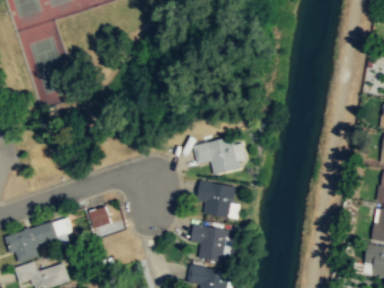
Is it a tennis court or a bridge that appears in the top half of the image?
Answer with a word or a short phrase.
tennis court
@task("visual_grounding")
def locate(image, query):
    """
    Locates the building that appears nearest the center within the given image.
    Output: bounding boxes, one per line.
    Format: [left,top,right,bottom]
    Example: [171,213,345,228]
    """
[194,138,248,176]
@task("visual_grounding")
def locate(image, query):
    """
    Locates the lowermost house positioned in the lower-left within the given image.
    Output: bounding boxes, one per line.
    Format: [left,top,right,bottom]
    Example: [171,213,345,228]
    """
[15,260,70,288]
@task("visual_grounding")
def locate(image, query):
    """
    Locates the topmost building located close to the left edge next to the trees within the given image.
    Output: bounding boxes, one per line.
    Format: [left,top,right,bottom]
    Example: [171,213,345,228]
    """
[5,218,74,264]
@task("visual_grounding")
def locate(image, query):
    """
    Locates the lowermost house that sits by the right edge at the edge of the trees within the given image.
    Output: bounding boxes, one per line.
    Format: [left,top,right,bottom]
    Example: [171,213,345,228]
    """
[364,244,384,280]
